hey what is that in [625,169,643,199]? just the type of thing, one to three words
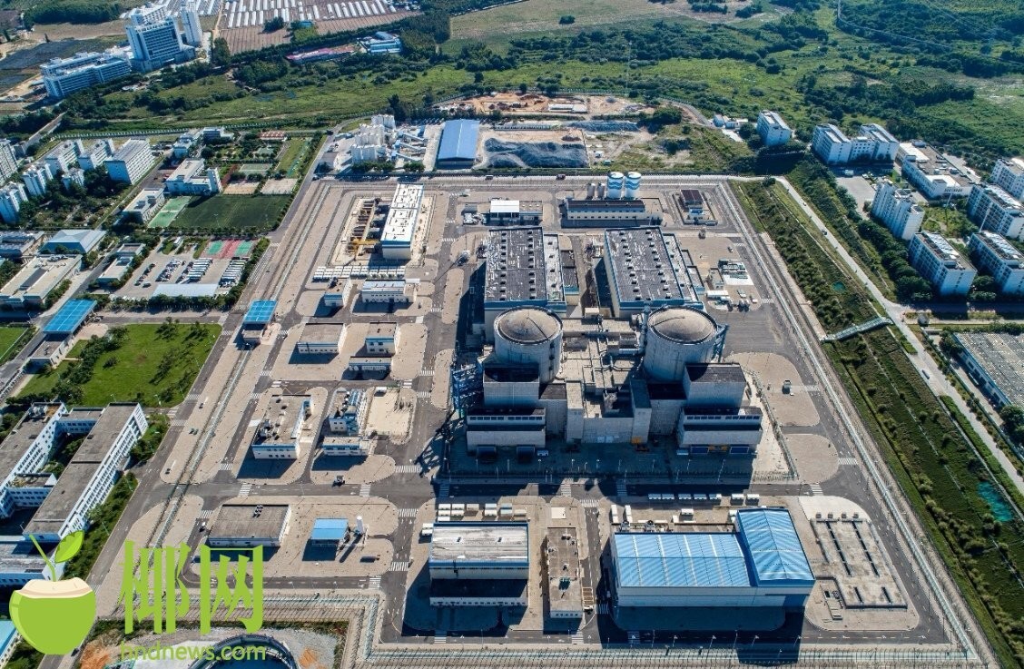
water tank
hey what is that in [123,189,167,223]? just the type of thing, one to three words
building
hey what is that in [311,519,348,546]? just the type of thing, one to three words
shed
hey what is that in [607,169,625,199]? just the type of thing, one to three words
water tank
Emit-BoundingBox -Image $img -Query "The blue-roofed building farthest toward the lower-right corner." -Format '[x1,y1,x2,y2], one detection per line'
[731,509,815,606]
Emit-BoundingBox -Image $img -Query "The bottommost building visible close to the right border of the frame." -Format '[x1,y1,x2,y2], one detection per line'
[950,333,1024,432]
